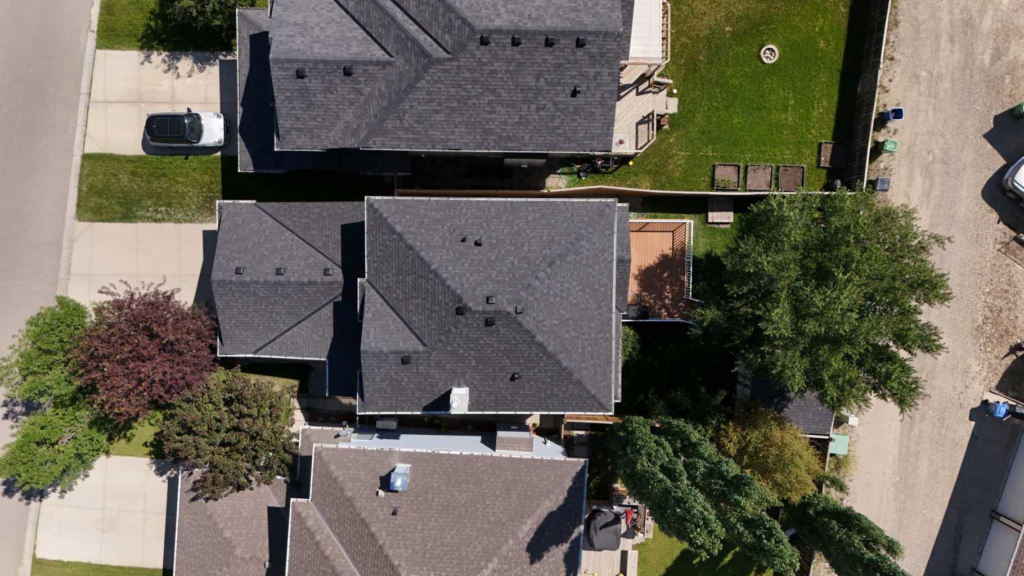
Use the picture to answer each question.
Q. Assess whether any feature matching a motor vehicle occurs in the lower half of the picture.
No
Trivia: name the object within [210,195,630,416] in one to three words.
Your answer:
house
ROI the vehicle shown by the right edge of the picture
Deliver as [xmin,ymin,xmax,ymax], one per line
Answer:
[997,158,1024,210]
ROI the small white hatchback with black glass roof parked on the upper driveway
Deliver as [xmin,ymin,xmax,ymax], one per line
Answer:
[142,105,229,148]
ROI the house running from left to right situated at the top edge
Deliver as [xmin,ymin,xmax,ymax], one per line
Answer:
[236,0,635,176]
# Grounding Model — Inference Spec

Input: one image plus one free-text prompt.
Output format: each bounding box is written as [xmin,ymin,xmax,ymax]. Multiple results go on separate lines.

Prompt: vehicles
[997,158,1024,210]
[142,105,229,148]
